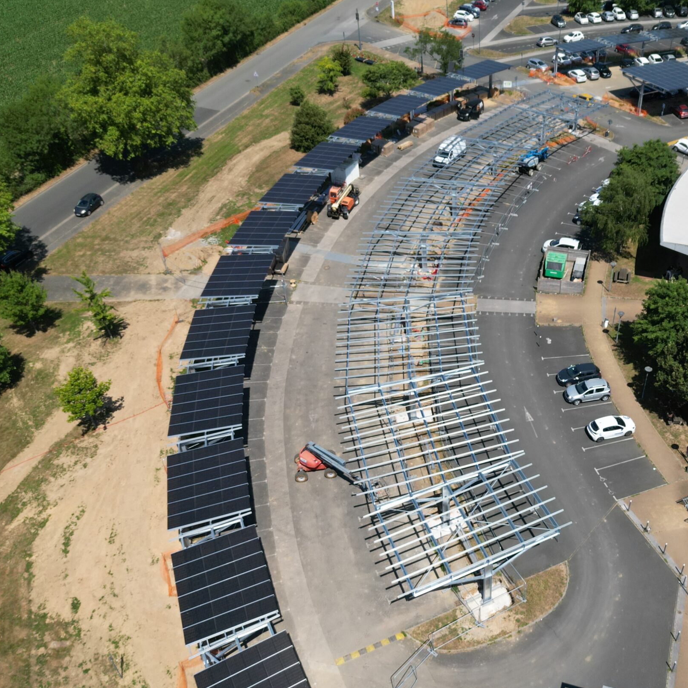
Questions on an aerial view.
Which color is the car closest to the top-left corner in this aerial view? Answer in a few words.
black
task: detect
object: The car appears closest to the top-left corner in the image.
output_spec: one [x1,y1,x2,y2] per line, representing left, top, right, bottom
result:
[71,193,105,214]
